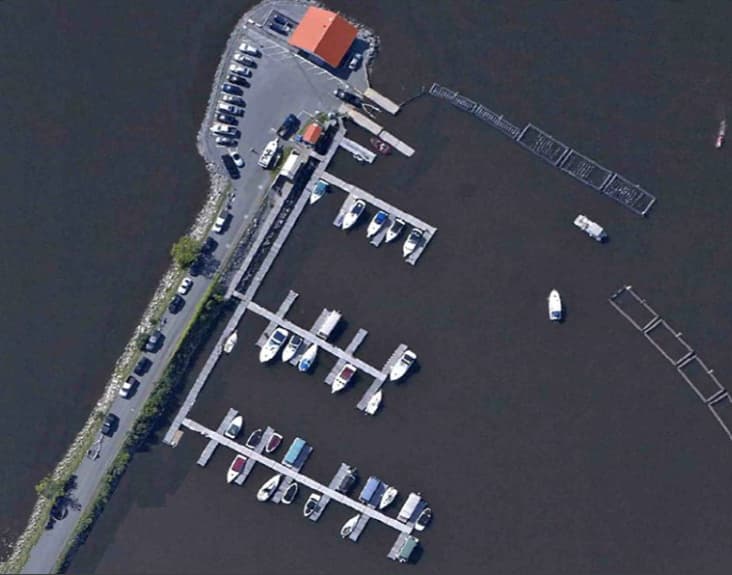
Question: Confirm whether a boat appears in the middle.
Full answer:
Yes, a boat shows up in the middle.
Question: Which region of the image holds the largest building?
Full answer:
Look in the top portion of the view to spot the largest building.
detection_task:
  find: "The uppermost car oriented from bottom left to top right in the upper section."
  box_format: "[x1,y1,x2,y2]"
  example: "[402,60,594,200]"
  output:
[347,51,362,70]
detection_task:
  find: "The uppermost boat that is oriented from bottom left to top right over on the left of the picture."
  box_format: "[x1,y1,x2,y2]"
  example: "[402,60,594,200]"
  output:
[258,142,278,169]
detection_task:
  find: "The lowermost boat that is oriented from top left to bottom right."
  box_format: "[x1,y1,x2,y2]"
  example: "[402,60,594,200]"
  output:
[575,217,603,240]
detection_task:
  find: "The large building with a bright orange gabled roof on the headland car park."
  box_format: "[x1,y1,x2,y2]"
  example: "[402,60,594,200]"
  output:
[290,6,357,68]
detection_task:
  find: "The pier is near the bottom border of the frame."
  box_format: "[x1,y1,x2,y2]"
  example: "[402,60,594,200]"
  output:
[182,408,427,559]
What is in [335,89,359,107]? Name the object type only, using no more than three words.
vehicle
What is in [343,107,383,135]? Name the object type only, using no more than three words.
pier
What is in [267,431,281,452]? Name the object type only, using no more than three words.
boat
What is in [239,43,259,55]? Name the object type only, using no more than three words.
vehicle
